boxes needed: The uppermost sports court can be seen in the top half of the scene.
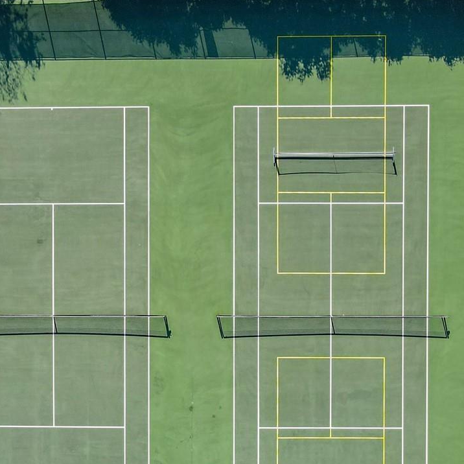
[277,34,386,274]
